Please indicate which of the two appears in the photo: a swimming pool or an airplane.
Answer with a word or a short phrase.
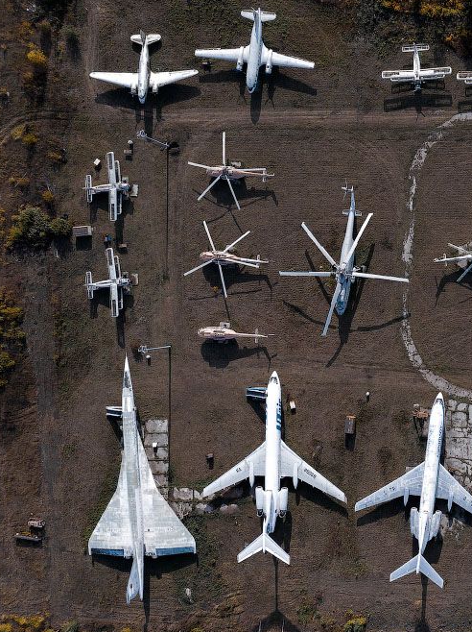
airplane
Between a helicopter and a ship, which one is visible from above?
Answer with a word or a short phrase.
helicopter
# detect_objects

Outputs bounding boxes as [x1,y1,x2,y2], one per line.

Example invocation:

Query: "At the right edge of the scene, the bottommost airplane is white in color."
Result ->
[357,393,472,587]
